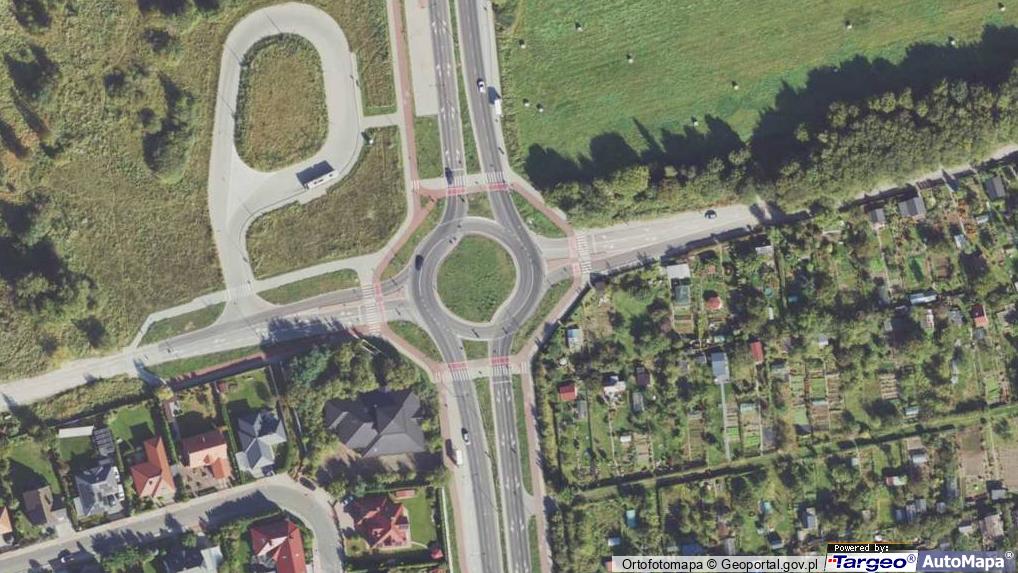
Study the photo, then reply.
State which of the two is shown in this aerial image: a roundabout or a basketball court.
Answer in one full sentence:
The image shows a roundabout.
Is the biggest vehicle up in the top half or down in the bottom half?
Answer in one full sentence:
It is in the top half that the biggest vehicle appears.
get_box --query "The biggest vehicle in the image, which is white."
[306,169,339,189]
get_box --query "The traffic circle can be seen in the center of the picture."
[410,216,546,341]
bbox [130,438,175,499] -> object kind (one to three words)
house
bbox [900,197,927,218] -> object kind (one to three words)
building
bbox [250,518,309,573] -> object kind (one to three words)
house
